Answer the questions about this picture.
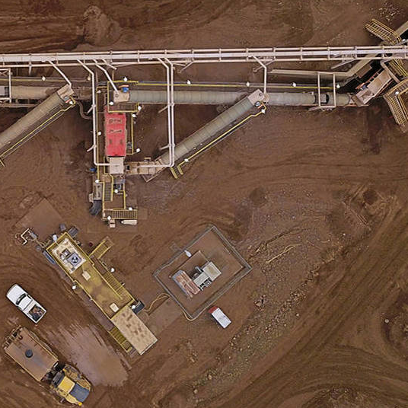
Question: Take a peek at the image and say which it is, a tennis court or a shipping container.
shipping container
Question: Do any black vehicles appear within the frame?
No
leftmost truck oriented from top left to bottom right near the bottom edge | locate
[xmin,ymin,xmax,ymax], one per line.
[1,323,86,403]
